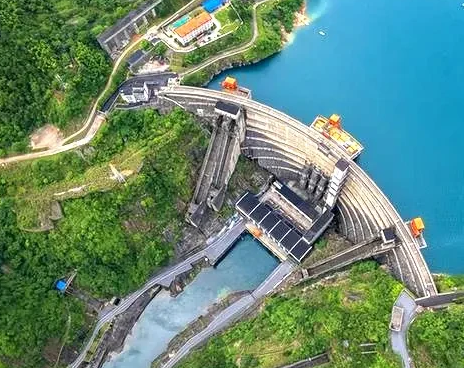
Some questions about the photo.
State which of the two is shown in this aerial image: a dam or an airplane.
dam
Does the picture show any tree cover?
Yes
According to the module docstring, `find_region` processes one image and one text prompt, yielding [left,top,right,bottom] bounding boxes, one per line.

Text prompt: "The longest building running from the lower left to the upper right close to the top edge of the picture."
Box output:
[175,12,213,44]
